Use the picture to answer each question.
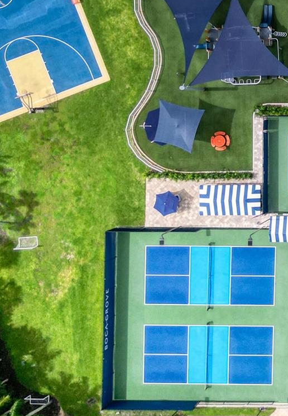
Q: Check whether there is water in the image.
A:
No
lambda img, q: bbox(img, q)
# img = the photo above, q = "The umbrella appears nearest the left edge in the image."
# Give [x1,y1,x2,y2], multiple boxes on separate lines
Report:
[137,110,160,144]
